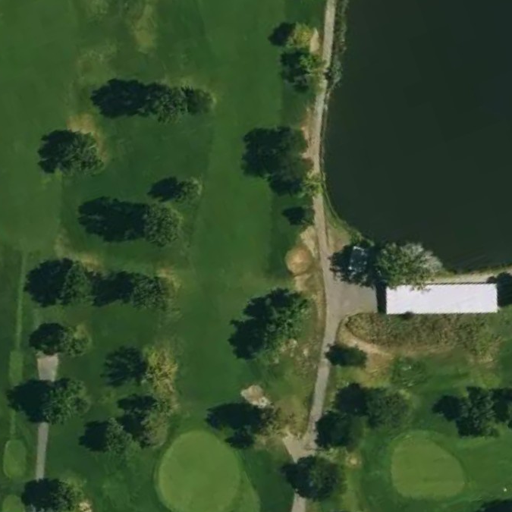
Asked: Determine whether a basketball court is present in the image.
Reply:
No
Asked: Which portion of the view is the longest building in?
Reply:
right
